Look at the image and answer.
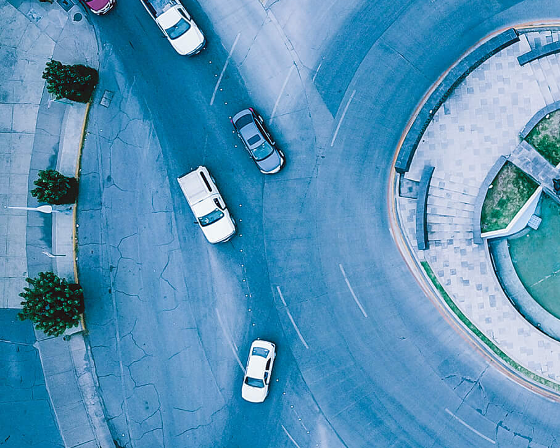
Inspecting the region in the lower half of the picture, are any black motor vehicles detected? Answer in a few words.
No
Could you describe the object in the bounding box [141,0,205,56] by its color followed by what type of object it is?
white vehicle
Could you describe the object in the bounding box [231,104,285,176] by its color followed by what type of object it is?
blue car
